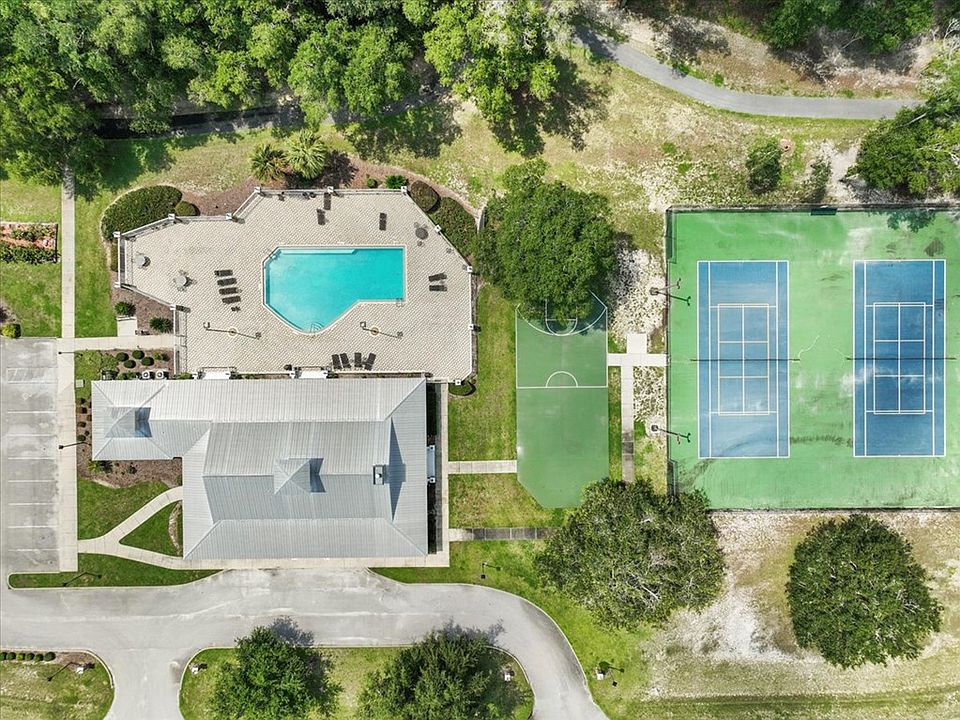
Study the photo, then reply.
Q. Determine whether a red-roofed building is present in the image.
No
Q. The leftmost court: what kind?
basketball court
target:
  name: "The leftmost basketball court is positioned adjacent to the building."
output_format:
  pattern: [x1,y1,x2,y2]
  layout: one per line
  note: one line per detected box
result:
[516,291,609,508]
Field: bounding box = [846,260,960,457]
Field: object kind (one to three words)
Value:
tennis court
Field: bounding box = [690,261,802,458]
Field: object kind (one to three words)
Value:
tennis court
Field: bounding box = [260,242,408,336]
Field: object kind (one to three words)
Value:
swimming pool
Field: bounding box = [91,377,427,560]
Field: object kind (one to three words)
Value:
building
